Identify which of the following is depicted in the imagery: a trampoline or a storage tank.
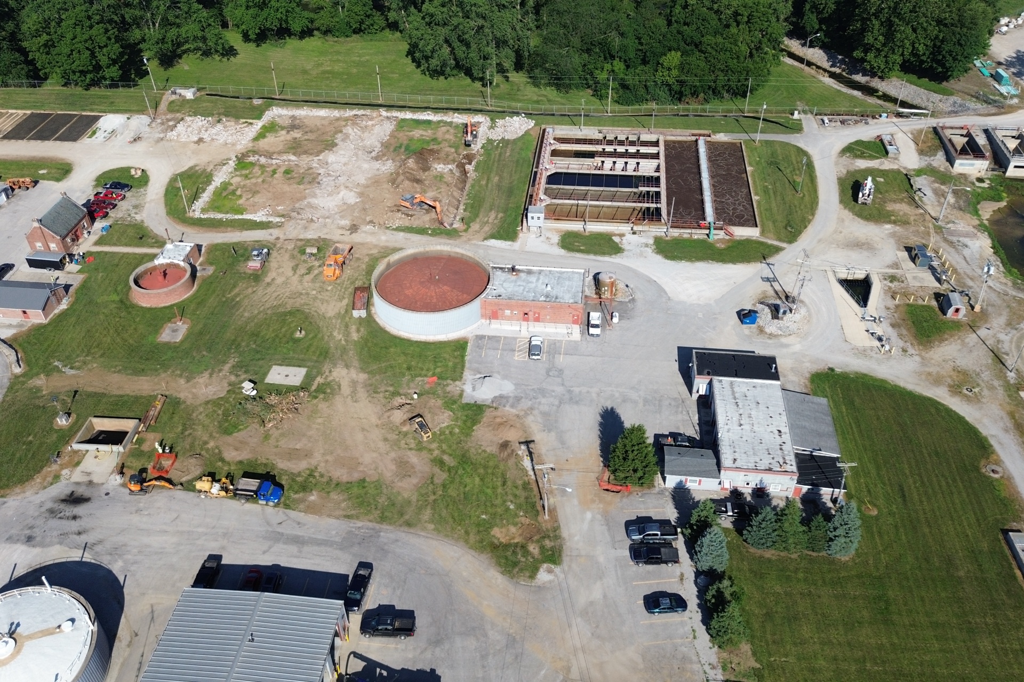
storage tank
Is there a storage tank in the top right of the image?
Yes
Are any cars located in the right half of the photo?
Yes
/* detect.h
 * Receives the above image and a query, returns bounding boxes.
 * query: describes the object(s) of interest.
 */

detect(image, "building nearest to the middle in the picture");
[483,262,592,321]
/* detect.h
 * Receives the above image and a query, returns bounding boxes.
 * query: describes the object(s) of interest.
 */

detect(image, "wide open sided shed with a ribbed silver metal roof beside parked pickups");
[139,588,347,682]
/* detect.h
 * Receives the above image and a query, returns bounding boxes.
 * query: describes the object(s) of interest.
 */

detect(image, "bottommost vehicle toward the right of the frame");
[642,595,690,618]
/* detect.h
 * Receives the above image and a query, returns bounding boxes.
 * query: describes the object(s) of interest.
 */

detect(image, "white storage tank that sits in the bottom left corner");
[0,581,119,682]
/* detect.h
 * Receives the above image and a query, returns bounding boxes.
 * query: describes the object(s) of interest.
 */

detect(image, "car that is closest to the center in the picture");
[528,337,544,359]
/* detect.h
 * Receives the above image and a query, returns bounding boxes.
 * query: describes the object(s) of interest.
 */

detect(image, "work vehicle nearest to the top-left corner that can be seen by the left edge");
[1,174,34,190]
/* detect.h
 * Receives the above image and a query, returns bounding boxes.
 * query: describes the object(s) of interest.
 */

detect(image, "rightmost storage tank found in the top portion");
[988,124,1024,172]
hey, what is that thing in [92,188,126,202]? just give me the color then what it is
red vehicle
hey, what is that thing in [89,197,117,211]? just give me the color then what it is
red car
